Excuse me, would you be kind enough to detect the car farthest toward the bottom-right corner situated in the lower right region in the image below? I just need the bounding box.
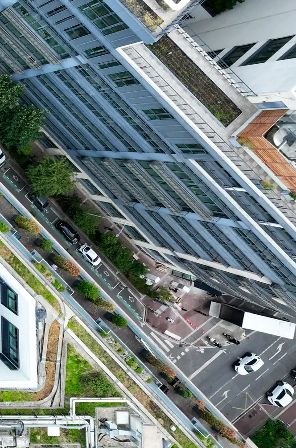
[267,383,292,407]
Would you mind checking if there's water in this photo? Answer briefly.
No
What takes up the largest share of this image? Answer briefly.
buildings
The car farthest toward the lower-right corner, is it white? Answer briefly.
Yes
